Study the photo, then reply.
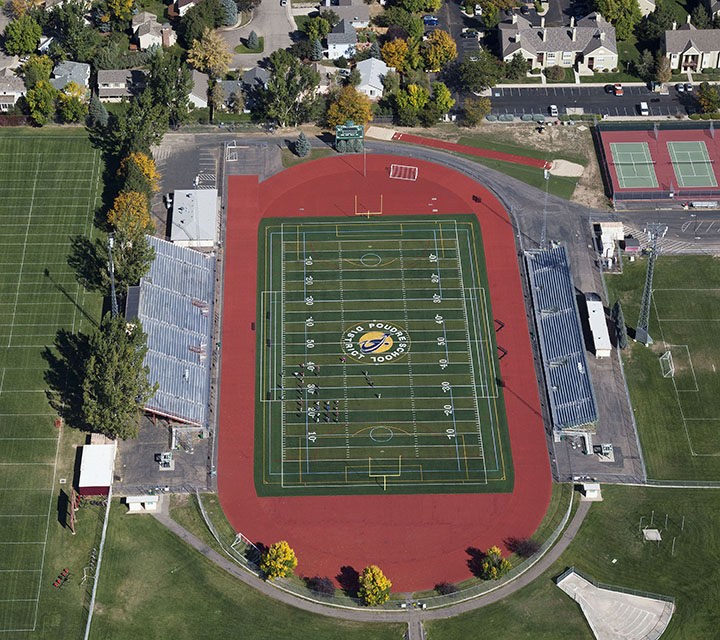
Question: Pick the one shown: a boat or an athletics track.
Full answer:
There is an athletics track in the scene.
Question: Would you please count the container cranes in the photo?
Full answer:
The photo contains no container cranes.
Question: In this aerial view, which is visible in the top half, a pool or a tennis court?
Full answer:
There is a tennis court in the top half.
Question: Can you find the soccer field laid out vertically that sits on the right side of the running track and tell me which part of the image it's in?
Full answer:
Look in the right portion of the view to spot the soccer field laid out vertically that sits on the right side of the running track.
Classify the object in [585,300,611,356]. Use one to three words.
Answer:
building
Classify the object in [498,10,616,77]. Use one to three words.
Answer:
building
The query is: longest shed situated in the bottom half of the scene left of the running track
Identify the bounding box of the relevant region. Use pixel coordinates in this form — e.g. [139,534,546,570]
[79,434,116,495]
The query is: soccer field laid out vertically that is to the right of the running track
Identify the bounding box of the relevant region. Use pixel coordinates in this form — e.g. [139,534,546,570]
[629,252,720,478]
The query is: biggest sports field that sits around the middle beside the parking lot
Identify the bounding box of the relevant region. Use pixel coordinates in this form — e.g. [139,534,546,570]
[254,213,514,497]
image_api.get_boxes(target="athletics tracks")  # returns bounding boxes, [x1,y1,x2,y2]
[215,154,553,593]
